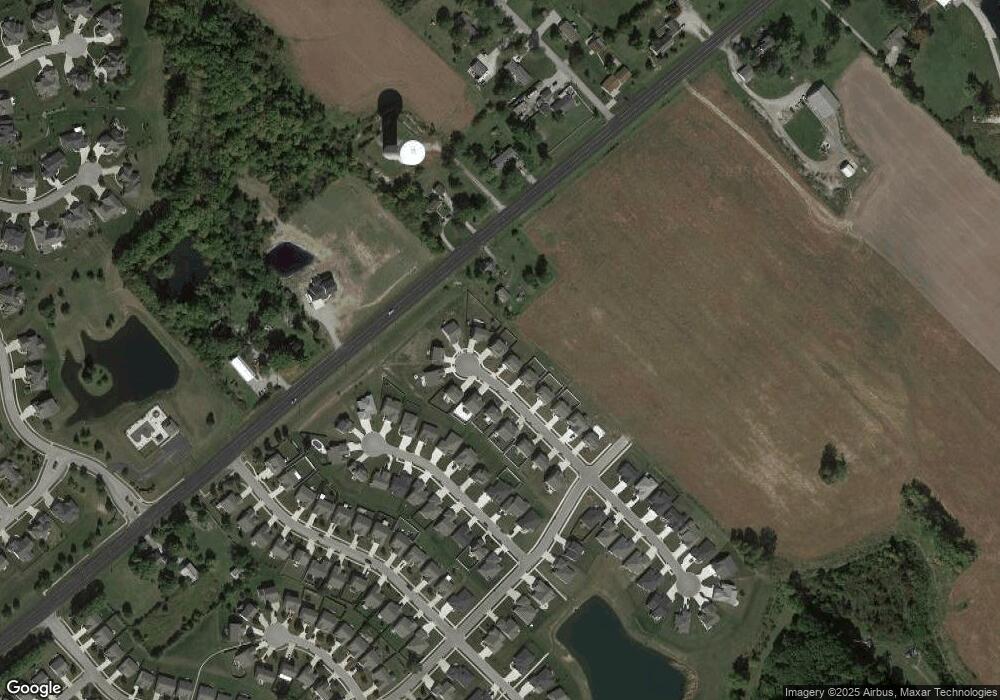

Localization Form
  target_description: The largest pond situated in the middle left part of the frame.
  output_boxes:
[62,315,179,425]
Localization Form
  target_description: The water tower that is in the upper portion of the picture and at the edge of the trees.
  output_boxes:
[383,137,425,164]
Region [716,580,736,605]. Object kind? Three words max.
house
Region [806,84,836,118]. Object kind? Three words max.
barn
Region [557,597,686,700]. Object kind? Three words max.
pond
